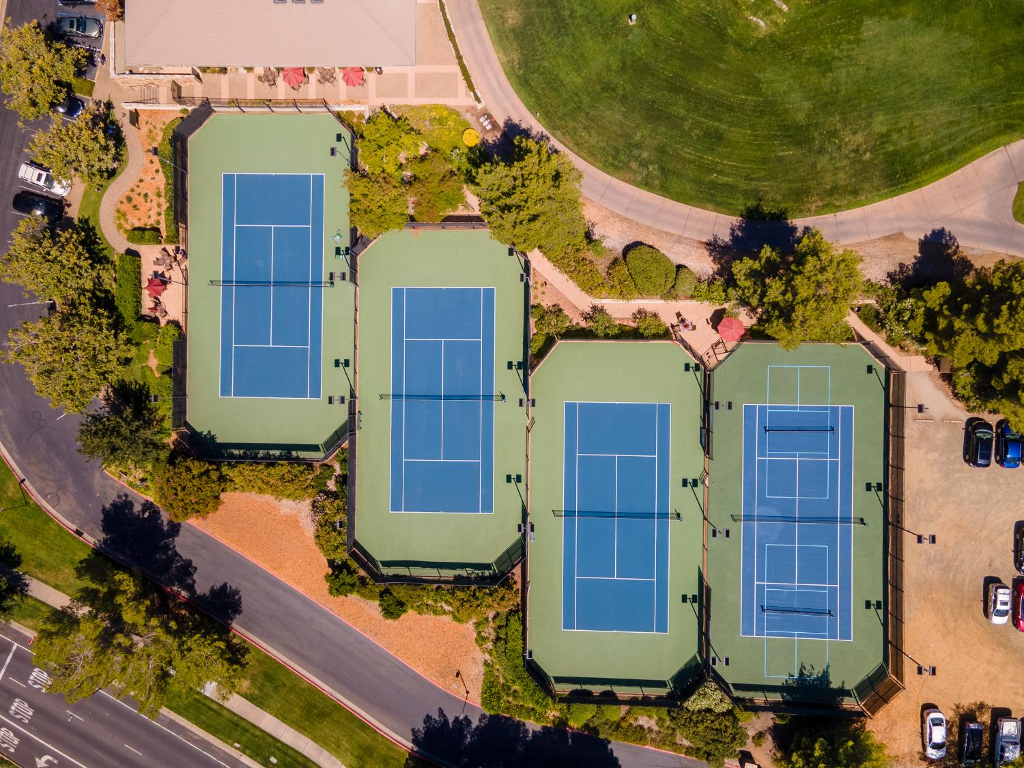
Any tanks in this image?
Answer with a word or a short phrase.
No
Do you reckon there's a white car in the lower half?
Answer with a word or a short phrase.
Yes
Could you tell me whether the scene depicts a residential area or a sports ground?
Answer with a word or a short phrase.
sports ground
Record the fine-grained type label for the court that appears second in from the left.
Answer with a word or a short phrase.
tennis court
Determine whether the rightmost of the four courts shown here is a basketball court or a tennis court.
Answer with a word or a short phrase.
tennis court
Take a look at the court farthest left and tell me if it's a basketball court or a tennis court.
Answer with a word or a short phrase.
tennis court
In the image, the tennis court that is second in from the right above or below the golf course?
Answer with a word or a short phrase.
below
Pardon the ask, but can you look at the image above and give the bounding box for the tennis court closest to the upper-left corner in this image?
[185,113,355,460]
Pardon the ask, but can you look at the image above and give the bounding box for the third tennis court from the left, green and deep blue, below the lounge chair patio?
[527,341,705,694]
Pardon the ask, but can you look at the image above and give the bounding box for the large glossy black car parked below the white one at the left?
[12,196,66,222]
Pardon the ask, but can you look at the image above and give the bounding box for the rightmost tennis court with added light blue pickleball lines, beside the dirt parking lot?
[709,343,890,704]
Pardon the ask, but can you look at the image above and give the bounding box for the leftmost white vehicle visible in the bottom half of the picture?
[920,708,946,756]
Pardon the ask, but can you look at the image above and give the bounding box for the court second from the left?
[355,229,529,576]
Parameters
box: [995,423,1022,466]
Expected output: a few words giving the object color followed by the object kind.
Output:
blue car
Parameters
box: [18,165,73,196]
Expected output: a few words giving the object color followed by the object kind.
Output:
white car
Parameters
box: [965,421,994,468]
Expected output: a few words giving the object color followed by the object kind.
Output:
black car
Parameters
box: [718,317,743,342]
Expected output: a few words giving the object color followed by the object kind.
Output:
red umbrella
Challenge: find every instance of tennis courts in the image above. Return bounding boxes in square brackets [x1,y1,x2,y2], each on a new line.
[527,341,705,694]
[355,229,529,576]
[185,113,355,460]
[709,343,890,704]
